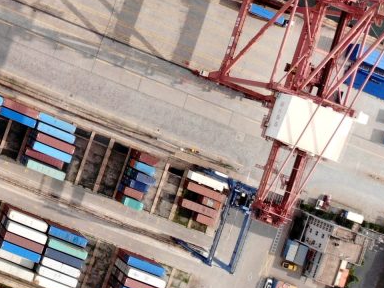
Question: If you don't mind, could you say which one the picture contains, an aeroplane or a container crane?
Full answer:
Of the two, only a container crane appears.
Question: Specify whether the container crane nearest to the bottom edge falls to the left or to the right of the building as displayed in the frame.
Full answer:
Relative to the building, the container crane nearest to the bottom edge is on the left.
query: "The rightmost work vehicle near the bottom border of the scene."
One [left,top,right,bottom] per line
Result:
[275,259,298,274]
